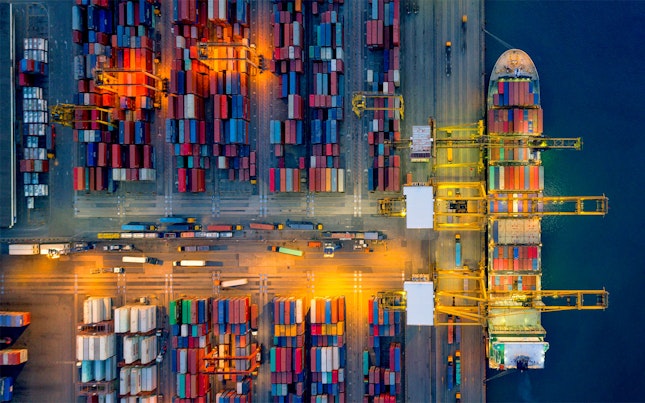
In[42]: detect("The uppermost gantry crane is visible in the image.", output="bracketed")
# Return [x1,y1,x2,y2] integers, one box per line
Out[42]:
[195,42,261,71]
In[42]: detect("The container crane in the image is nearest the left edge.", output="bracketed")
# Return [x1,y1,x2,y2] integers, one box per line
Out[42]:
[35,104,114,129]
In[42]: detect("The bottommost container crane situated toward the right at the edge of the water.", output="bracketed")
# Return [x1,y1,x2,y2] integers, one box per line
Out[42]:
[379,258,608,327]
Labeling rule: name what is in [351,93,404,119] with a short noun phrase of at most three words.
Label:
container crane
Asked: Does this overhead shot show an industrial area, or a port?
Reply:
port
